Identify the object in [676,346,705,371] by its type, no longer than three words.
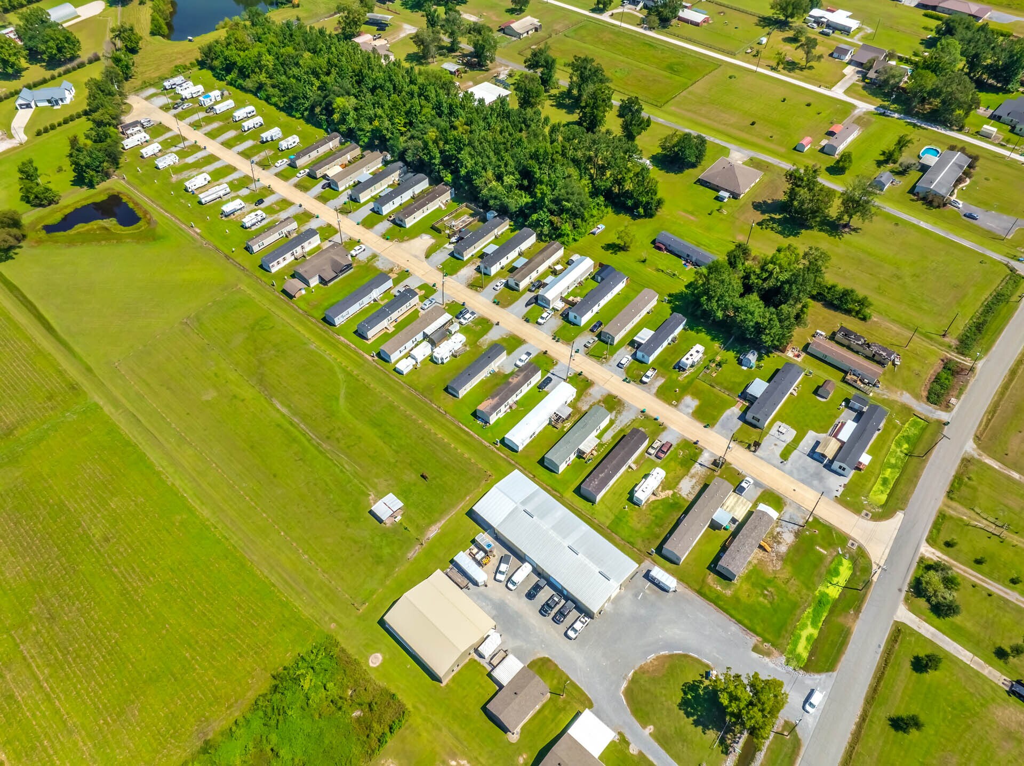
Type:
vehicle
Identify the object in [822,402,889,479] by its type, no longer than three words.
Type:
house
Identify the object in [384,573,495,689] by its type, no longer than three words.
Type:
building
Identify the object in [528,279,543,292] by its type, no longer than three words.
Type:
vehicle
